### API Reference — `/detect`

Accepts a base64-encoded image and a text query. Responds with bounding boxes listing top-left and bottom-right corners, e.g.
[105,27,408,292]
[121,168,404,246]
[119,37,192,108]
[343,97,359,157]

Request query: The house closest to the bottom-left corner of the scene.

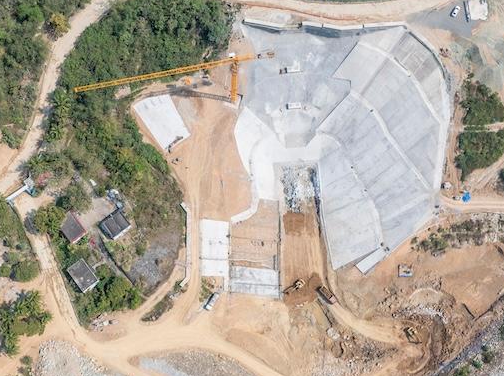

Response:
[66,258,99,292]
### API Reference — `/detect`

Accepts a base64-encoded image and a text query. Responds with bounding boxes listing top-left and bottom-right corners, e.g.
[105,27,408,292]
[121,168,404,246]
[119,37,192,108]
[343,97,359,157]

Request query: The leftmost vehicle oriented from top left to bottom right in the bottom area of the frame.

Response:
[317,282,338,303]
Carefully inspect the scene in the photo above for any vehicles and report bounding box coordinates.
[204,291,218,310]
[449,3,462,18]
[406,324,418,346]
[317,282,338,303]
[286,278,307,293]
